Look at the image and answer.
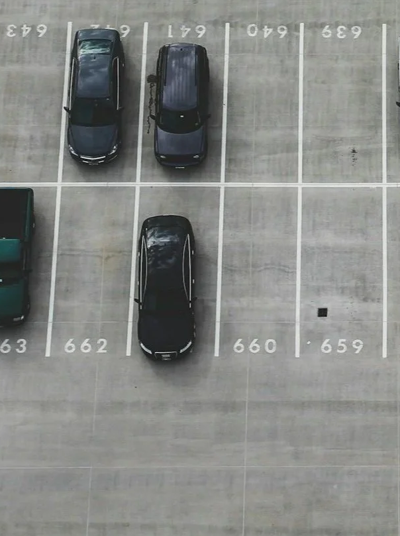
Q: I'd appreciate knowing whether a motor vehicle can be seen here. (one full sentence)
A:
Yes, there's a motor vehicle down there.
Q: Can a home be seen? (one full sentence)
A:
No, there's no home here.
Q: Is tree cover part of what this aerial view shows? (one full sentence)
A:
No, there is no tree cover in the image.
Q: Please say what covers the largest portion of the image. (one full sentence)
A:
The scene is dominated by paved ground.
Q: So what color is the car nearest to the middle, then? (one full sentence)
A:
From above, the car nearest to the middle appears black.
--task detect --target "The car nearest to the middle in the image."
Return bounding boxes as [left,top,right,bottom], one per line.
[132,215,199,362]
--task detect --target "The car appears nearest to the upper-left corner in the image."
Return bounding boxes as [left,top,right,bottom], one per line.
[61,28,126,167]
